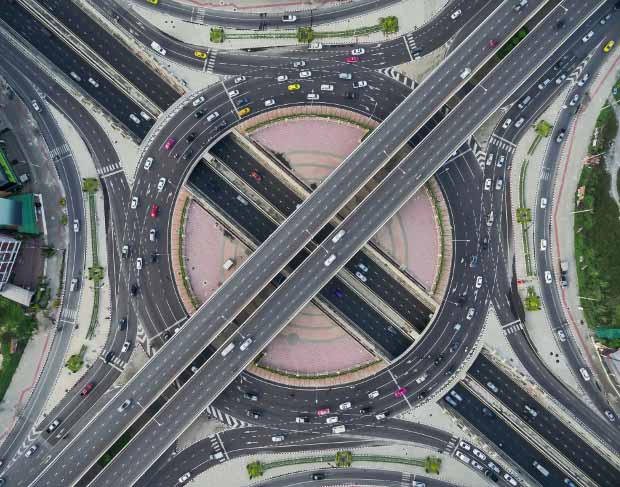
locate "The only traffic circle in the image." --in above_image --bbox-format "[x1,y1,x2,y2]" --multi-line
[122,56,502,436]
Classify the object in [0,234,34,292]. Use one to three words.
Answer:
building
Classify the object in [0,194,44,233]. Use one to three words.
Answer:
building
